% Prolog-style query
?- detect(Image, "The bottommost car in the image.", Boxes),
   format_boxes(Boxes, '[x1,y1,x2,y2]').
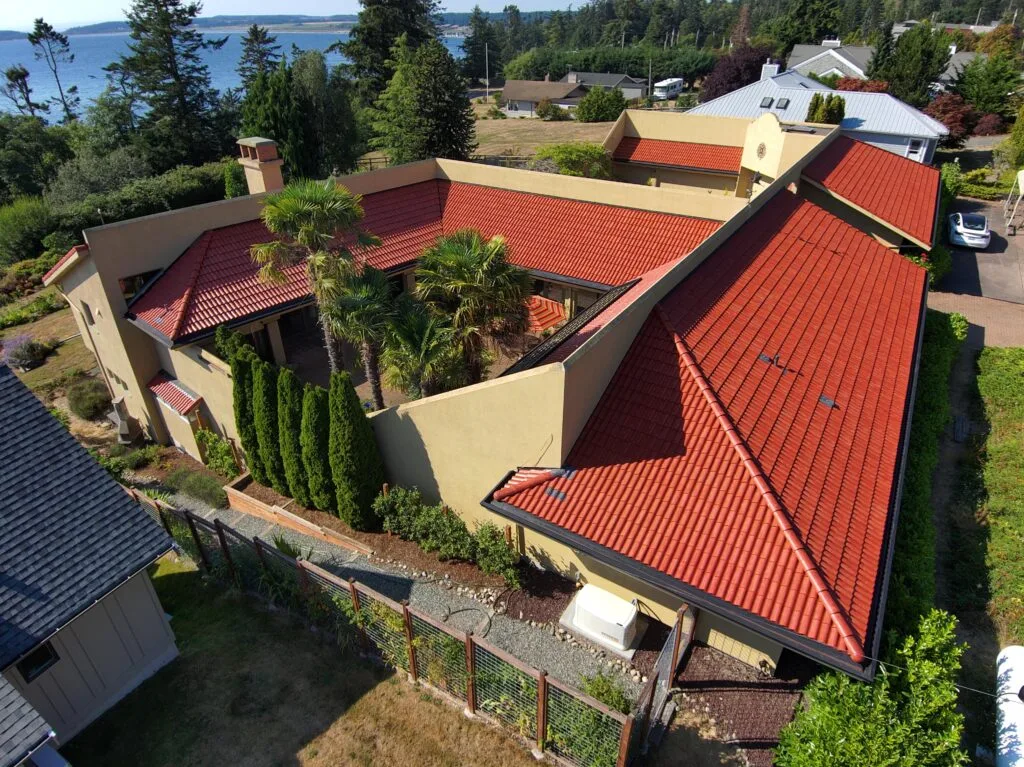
[951,215,996,247]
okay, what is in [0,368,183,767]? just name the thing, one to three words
house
